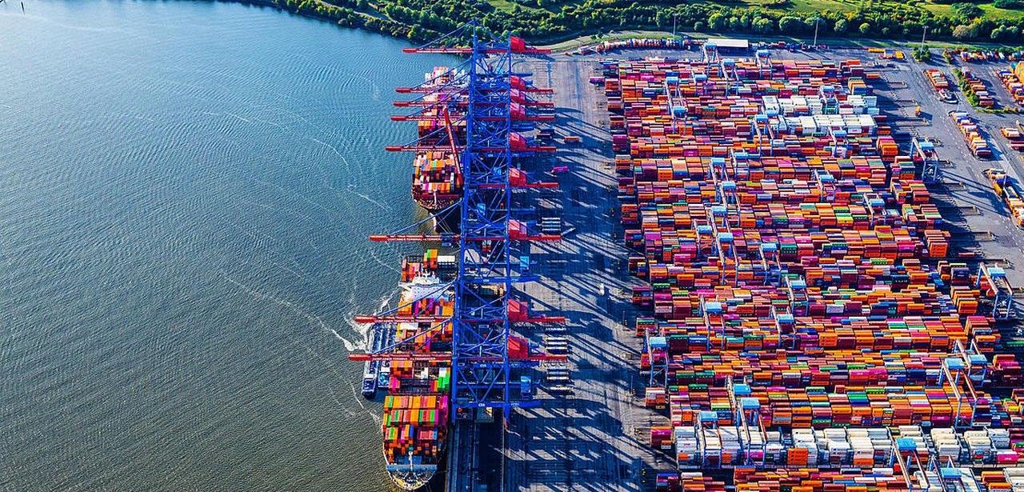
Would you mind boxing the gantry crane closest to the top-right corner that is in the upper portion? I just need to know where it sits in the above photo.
[907,138,938,182]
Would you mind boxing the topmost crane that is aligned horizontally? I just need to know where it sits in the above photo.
[402,18,551,87]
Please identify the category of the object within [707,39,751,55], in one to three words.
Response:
shed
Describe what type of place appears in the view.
port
